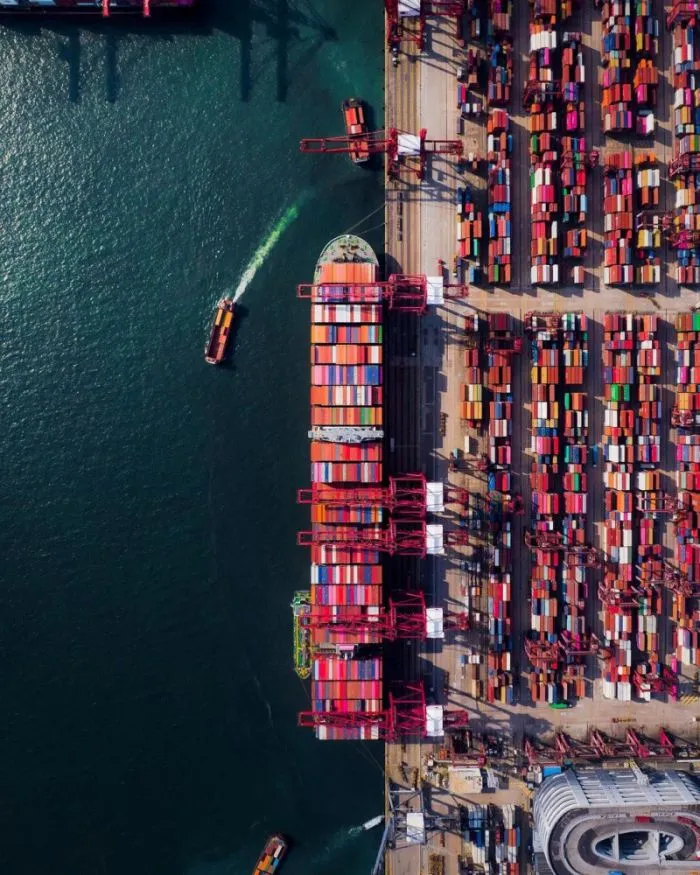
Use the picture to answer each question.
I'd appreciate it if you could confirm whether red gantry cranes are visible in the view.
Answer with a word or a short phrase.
Yes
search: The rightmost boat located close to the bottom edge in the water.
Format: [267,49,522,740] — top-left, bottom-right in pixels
[362,817,382,831]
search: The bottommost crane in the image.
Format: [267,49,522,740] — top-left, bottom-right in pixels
[372,778,462,875]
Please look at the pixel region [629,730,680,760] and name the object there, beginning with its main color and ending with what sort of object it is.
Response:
red container crane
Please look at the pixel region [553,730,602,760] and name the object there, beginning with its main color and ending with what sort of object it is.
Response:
red container crane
